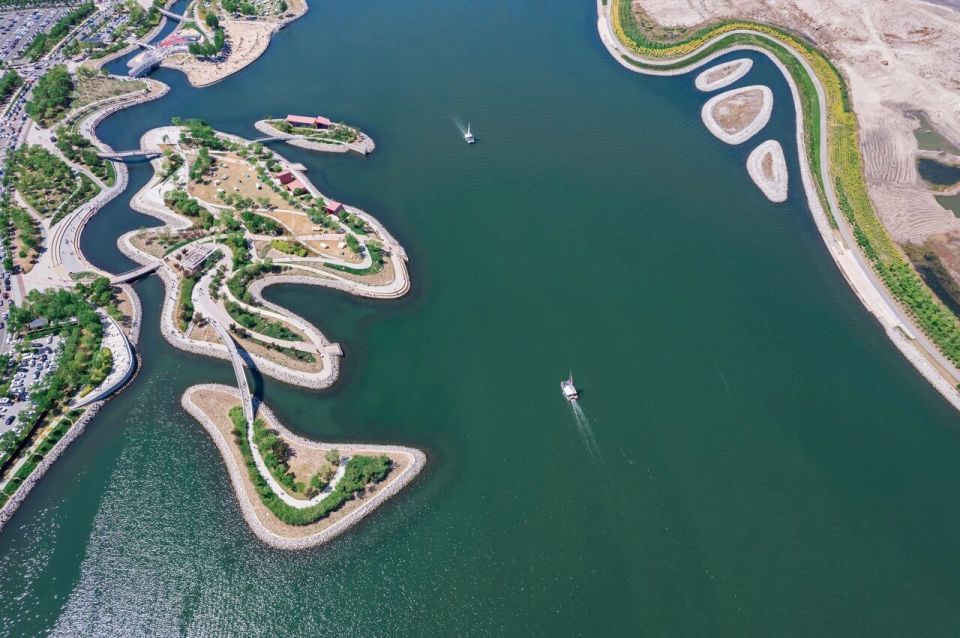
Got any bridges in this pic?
Yes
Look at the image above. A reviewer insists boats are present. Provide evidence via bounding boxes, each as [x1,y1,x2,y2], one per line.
[561,377,579,403]
[463,127,476,141]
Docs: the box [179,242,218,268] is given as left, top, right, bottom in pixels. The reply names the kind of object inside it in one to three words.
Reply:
building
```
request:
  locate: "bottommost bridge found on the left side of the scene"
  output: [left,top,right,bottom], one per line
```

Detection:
[205,314,254,419]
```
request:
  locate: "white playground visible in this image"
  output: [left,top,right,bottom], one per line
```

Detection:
[156,28,202,49]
